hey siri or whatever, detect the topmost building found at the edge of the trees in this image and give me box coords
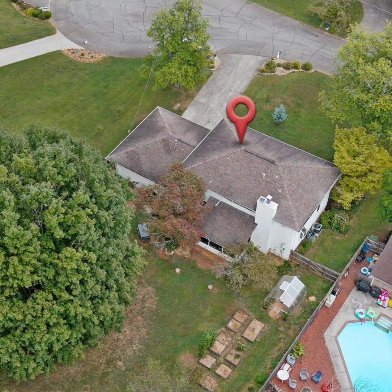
[104,106,344,263]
